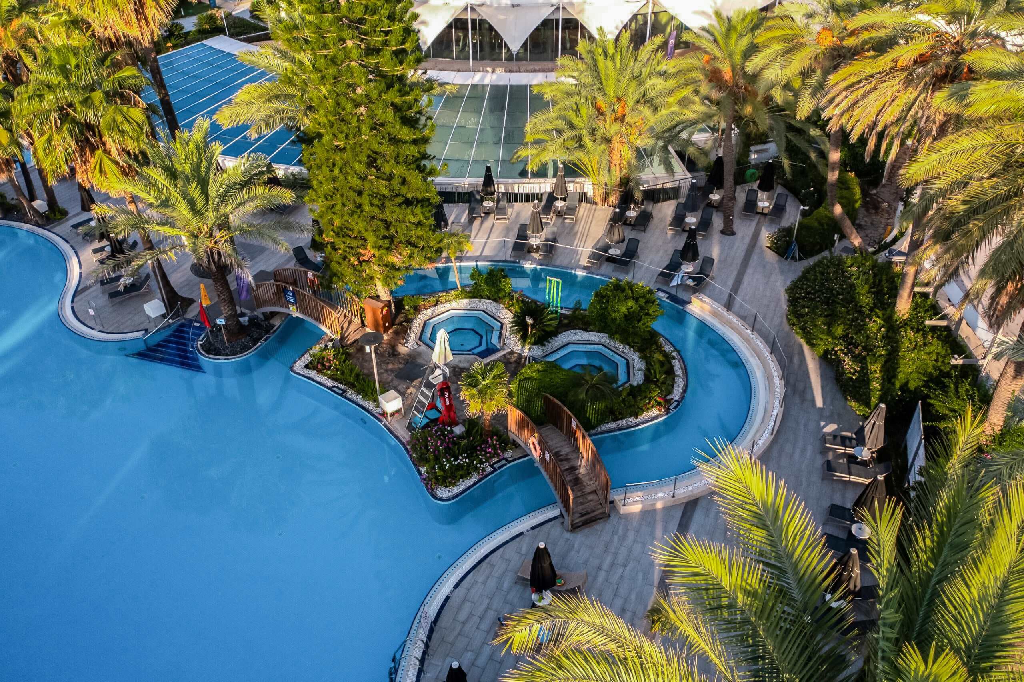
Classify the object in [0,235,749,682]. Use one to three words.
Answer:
swimming pool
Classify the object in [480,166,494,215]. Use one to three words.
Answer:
umbrella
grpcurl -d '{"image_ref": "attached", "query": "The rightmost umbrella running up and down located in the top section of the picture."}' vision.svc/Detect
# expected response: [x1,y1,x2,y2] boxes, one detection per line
[756,167,774,218]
